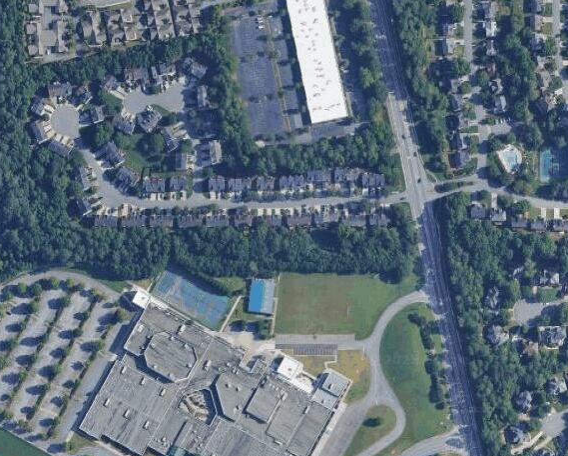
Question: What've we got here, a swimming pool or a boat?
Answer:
swimming pool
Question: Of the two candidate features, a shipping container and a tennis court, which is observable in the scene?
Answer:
tennis court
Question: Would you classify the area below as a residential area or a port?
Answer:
residential area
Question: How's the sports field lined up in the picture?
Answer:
horizontally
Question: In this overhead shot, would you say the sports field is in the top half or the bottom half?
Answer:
bottom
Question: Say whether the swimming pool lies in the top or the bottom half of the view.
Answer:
top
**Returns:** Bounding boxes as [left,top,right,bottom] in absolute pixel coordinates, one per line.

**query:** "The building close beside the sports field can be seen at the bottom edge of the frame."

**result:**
[80,291,351,456]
